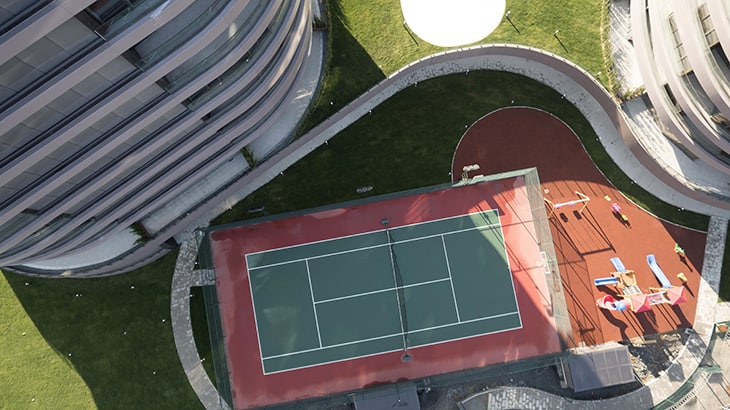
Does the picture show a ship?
No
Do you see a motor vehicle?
No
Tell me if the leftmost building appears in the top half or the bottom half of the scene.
top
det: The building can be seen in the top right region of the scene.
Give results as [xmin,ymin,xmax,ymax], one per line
[624,0,730,175]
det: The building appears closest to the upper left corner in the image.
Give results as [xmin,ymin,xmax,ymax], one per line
[0,0,318,270]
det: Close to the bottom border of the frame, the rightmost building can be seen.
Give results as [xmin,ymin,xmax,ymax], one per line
[555,343,636,391]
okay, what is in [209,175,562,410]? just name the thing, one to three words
tennis court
